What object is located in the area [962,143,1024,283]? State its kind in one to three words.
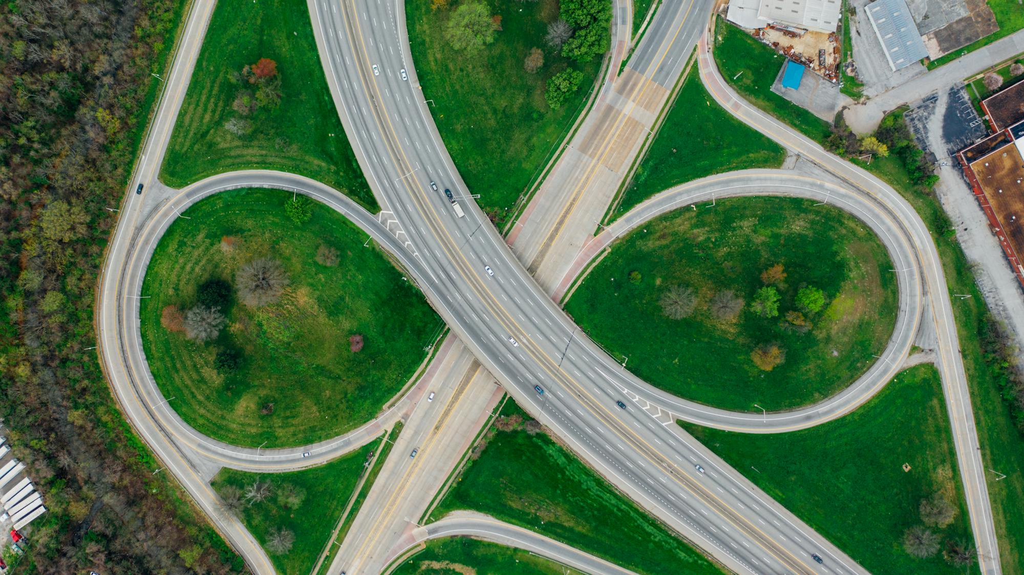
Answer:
building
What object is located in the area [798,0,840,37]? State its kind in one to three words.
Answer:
building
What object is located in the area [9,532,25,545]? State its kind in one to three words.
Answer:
vehicle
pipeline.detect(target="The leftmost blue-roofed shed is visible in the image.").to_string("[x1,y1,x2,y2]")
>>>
[779,60,805,92]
